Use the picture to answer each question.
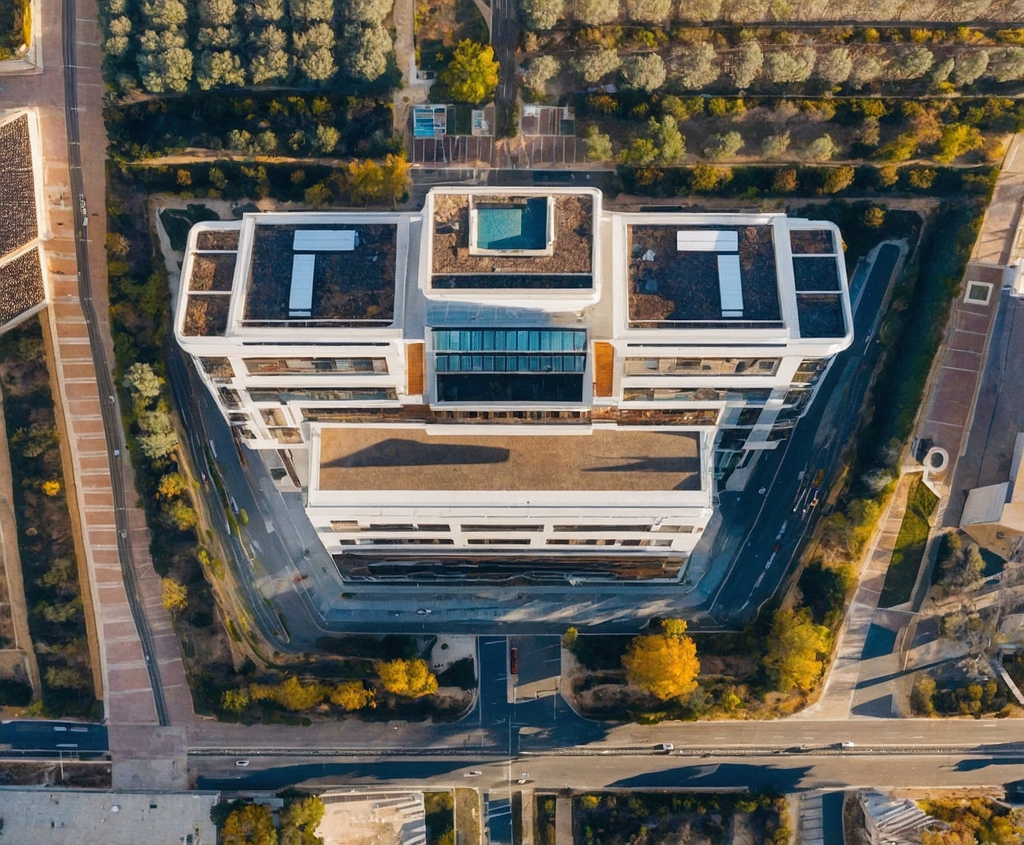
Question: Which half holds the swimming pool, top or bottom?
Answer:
top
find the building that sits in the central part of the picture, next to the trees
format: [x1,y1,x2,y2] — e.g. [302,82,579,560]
[175,187,853,582]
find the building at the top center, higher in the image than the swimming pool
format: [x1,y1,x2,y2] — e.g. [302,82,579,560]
[472,109,485,140]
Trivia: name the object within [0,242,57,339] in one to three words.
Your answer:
house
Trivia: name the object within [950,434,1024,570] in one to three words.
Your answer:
house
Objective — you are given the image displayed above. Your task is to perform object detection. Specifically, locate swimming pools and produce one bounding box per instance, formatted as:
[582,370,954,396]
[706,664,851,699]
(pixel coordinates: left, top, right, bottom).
[475,207,547,249]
